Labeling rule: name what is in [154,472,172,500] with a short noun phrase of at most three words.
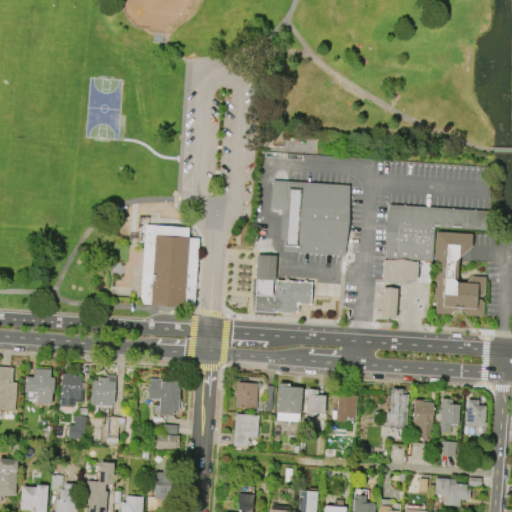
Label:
house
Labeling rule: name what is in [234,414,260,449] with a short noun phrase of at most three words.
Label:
house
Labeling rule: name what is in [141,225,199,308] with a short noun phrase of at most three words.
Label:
building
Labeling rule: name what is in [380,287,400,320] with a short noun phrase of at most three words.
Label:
building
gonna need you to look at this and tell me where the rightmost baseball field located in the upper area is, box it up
[124,0,201,43]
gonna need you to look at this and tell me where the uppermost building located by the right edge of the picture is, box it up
[386,205,490,260]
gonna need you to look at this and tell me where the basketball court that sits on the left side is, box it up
[86,76,126,142]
